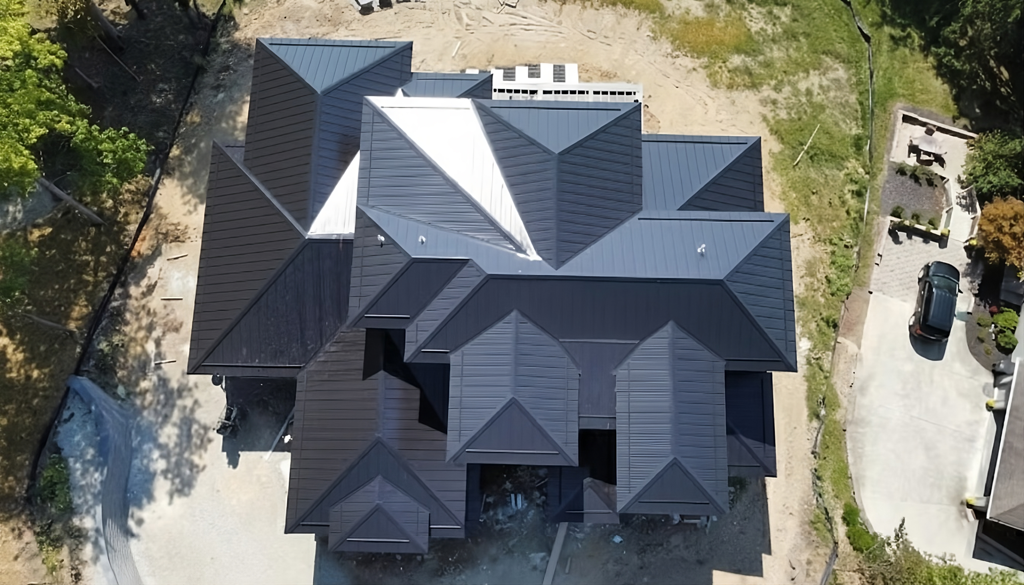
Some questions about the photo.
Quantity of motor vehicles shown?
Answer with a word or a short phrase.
one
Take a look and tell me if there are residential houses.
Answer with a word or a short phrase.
Yes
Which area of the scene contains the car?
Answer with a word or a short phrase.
right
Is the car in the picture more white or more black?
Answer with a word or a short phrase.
black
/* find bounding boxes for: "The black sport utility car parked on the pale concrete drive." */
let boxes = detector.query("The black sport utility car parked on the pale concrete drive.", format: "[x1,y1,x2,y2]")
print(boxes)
[909,262,962,349]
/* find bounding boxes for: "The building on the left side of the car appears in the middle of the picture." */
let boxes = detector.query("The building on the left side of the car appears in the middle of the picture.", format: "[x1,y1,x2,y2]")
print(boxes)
[186,37,797,555]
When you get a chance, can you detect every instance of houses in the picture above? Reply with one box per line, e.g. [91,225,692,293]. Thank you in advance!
[973,262,1024,538]
[186,37,797,555]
